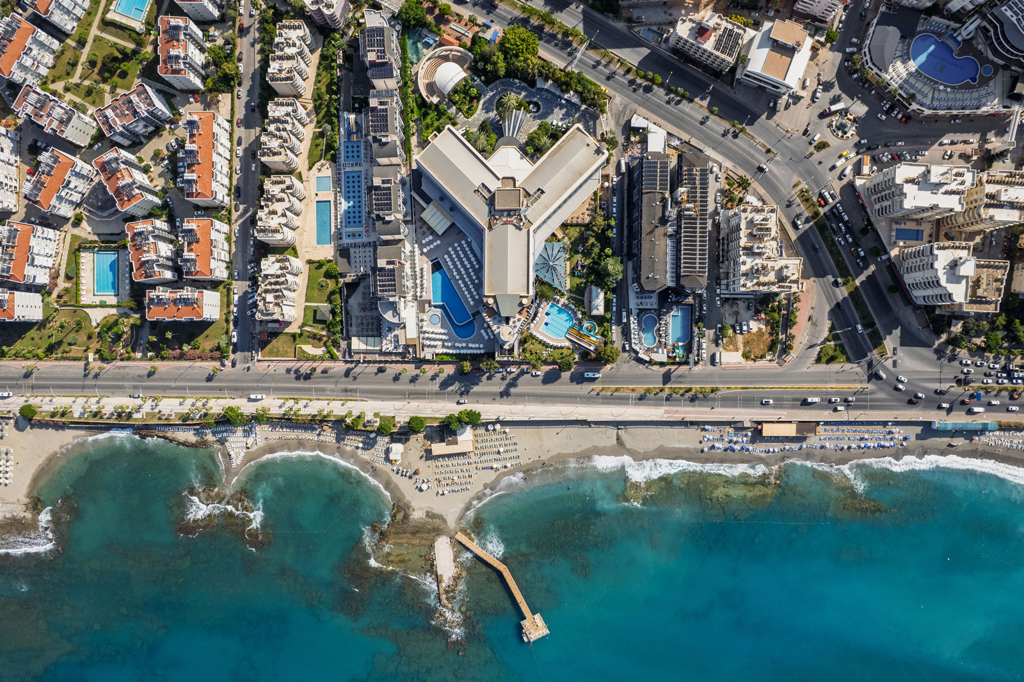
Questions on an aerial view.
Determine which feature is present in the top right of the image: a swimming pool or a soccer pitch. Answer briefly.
swimming pool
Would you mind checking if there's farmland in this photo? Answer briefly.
No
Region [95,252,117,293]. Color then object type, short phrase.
blue swimming pool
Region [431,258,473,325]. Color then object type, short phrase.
blue swimming pool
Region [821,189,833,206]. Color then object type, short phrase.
white vehicle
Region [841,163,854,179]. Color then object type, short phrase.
white vehicle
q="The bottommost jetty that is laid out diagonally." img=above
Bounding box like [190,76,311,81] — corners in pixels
[455,530,550,643]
